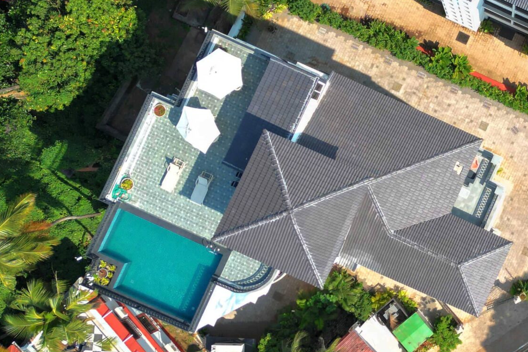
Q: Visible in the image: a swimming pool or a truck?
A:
swimming pool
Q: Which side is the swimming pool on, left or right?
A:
left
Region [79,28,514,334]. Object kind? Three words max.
house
